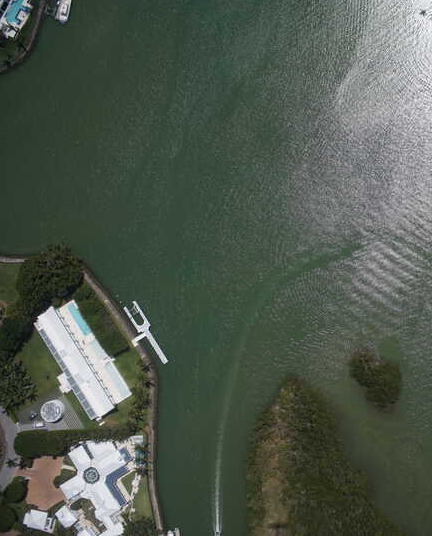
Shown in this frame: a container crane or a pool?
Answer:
pool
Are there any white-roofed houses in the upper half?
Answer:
No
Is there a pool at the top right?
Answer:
No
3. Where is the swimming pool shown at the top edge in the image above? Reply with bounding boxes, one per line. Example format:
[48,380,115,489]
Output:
[5,0,24,24]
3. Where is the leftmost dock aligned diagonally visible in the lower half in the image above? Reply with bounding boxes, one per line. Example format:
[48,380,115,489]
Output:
[124,301,169,363]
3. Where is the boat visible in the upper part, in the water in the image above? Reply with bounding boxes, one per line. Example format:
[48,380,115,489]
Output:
[57,0,69,22]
